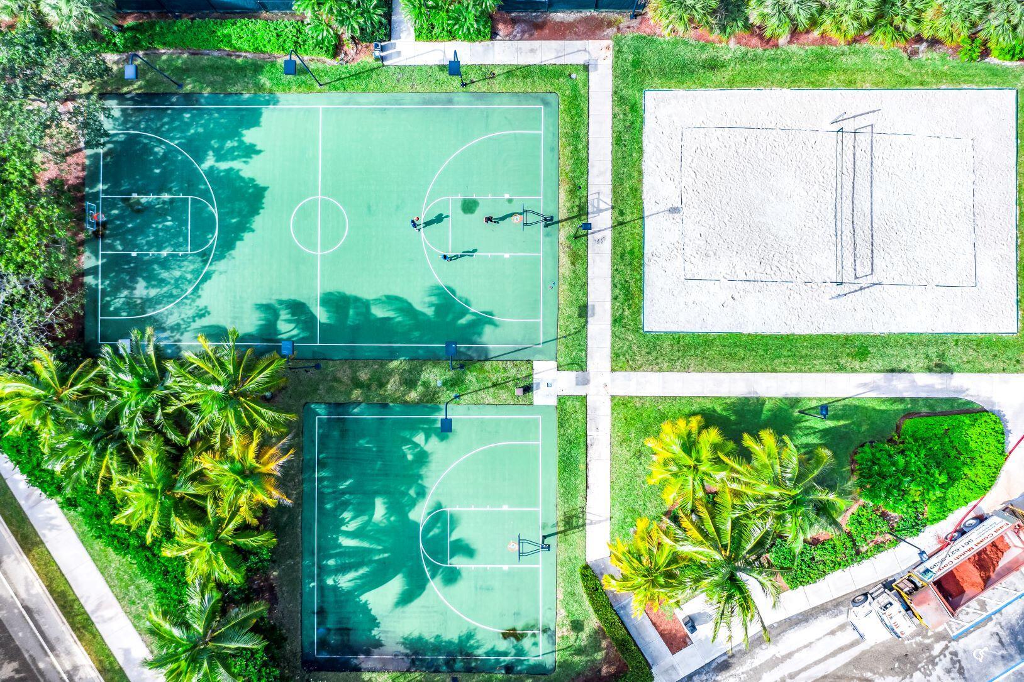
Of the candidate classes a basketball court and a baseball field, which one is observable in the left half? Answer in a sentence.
Looking in the left half, you will find a basketball court.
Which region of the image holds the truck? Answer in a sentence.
The truck sits in the bottom right section of the image.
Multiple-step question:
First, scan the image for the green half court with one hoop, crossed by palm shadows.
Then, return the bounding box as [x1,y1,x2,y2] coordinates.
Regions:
[301,401,558,679]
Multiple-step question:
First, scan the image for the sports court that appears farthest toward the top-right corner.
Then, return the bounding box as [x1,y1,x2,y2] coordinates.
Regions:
[642,88,1019,334]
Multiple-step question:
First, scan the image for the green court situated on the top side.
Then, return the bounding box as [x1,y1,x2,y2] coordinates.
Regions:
[84,92,560,364]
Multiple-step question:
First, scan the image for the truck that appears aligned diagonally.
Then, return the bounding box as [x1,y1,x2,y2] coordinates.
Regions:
[840,504,1024,644]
